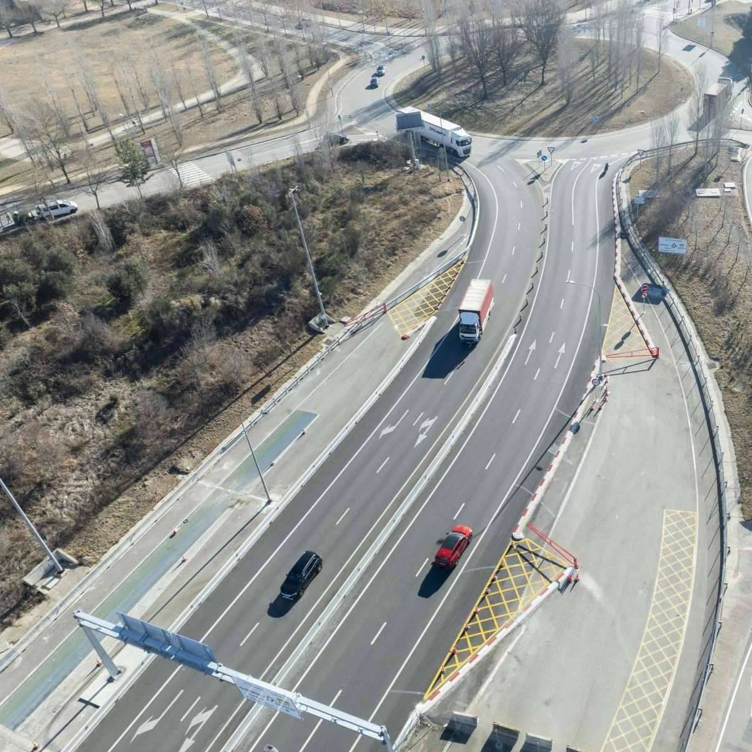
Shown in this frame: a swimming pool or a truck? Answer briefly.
truck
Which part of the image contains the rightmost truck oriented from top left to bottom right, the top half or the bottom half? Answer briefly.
top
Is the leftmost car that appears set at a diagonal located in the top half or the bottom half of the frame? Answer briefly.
bottom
